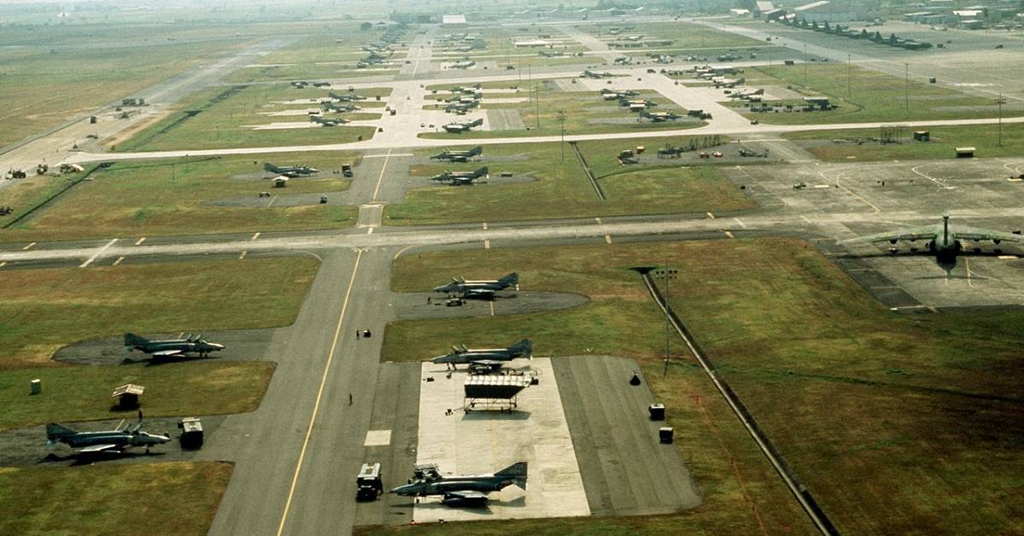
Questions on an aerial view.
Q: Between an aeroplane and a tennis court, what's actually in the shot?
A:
aeroplane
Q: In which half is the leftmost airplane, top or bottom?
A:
bottom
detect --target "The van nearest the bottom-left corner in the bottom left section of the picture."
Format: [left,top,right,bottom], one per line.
[176,413,205,442]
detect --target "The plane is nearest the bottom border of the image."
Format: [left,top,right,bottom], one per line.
[389,463,528,507]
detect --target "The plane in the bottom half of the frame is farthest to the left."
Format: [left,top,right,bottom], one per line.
[42,425,170,460]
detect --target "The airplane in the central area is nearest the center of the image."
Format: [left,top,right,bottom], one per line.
[434,272,518,297]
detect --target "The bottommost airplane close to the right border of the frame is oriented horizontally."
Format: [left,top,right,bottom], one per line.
[830,218,1024,258]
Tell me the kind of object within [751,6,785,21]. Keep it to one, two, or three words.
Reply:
hangar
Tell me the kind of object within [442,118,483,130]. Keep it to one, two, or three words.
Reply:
airplane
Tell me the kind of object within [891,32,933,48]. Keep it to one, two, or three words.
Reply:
airplane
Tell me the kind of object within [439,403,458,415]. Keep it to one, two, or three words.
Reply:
vehicle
